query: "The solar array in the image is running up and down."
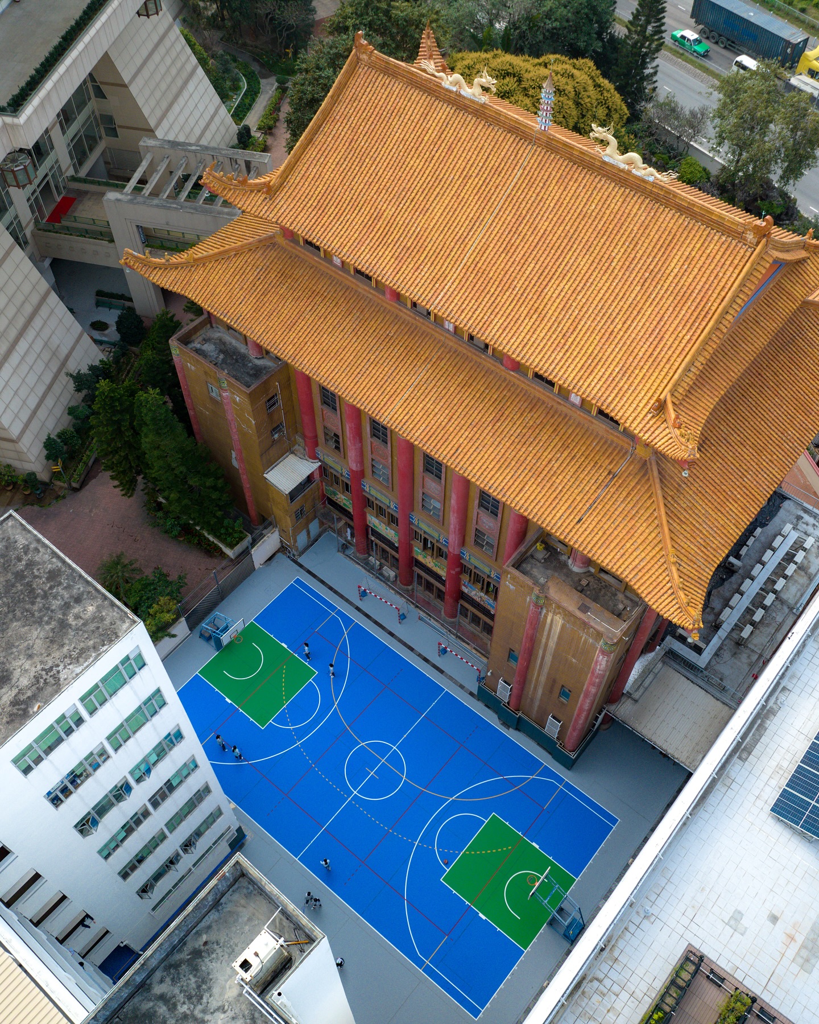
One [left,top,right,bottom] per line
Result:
[770,734,819,846]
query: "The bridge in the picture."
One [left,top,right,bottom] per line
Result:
[22,169,249,285]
